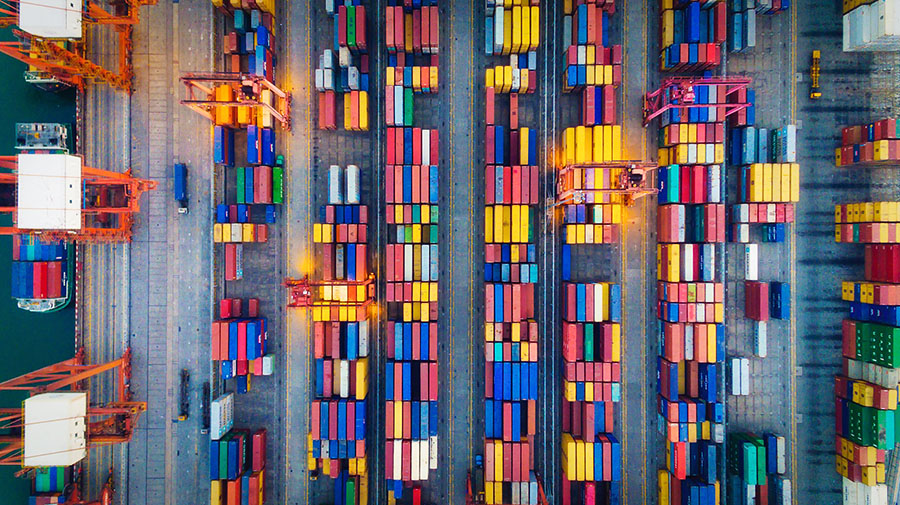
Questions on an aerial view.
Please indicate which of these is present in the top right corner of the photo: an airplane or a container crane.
container crane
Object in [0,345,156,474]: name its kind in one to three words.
container crane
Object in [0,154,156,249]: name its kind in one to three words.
container crane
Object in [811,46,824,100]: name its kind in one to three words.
vehicle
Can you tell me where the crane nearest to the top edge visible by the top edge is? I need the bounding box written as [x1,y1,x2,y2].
[0,0,148,99]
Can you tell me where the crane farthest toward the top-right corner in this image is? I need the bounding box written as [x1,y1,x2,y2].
[644,76,753,129]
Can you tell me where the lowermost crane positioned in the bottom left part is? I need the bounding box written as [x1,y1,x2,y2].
[47,468,114,505]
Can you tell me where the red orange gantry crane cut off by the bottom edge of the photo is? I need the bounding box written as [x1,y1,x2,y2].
[467,470,550,505]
